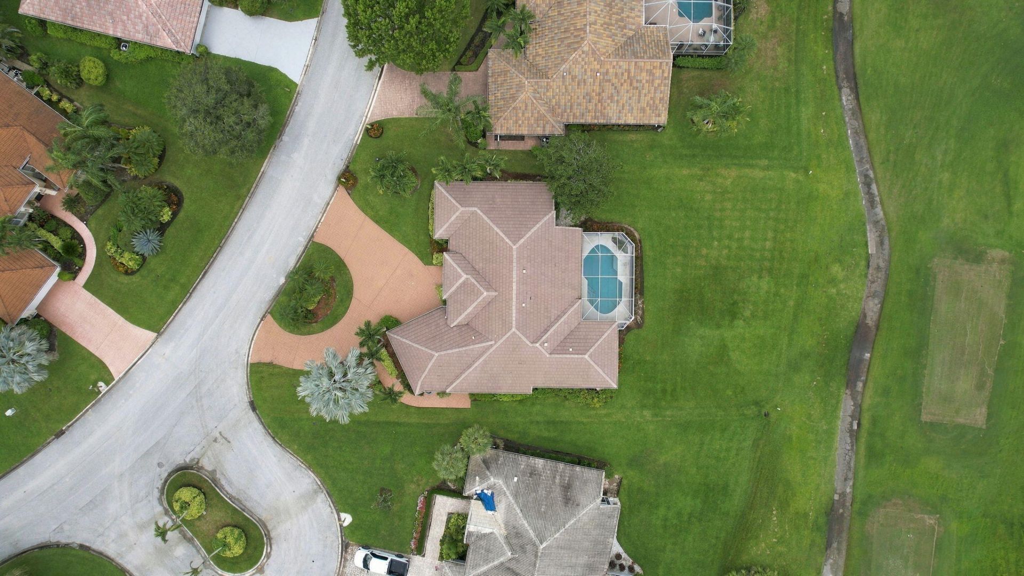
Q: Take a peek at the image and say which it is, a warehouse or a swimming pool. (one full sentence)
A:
Visible in the photo is a swimming pool.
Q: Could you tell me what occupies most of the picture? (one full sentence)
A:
The bulk of the photo consists of grass.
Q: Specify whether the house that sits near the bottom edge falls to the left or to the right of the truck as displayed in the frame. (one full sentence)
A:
Relative to the truck, the house that sits near the bottom edge lies to the right.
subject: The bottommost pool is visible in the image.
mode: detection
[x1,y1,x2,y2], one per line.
[582,242,625,317]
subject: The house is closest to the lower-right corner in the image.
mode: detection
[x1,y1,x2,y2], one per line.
[439,447,621,576]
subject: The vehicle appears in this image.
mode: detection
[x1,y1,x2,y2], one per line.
[352,545,411,576]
